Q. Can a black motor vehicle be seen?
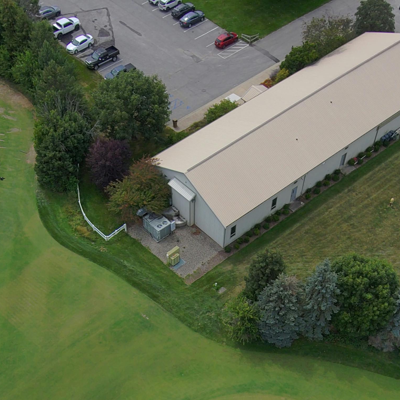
Yes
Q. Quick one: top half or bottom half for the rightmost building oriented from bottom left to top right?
top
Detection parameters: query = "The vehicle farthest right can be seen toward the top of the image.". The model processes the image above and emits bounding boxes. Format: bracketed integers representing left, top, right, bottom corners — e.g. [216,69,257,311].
[214,32,240,50]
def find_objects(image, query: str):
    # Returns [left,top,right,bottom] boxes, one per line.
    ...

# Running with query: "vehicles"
[170,3,197,21]
[34,3,63,20]
[50,17,85,39]
[84,46,122,71]
[179,11,206,28]
[103,60,141,82]
[214,32,240,50]
[156,0,183,14]
[66,34,95,54]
